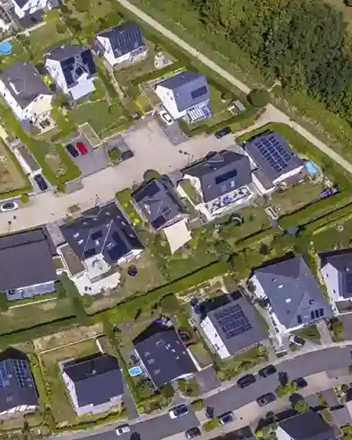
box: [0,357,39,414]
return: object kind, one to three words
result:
house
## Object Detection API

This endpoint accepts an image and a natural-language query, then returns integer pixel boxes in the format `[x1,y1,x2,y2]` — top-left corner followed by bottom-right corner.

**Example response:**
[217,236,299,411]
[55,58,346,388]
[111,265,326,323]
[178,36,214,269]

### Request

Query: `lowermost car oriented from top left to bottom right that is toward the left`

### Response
[35,173,48,190]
